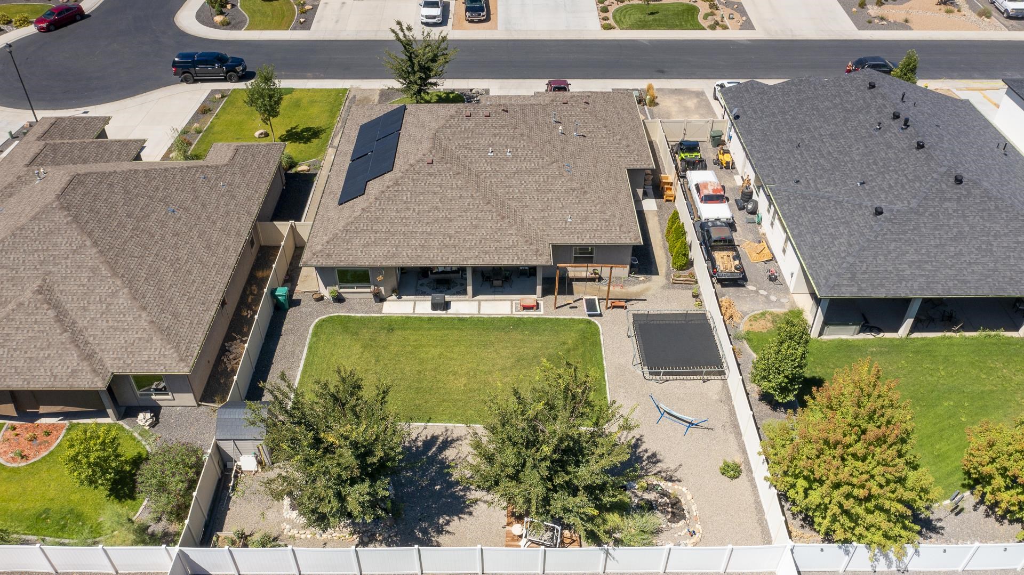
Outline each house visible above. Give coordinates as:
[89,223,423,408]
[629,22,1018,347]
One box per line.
[298,88,657,299]
[0,116,288,426]
[724,63,1024,336]
[994,70,1024,145]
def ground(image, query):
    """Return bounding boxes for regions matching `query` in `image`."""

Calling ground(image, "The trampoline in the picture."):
[627,310,724,385]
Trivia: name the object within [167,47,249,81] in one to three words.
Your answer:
truck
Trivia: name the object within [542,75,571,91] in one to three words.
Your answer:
vehicle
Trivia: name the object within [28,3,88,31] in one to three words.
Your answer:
car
